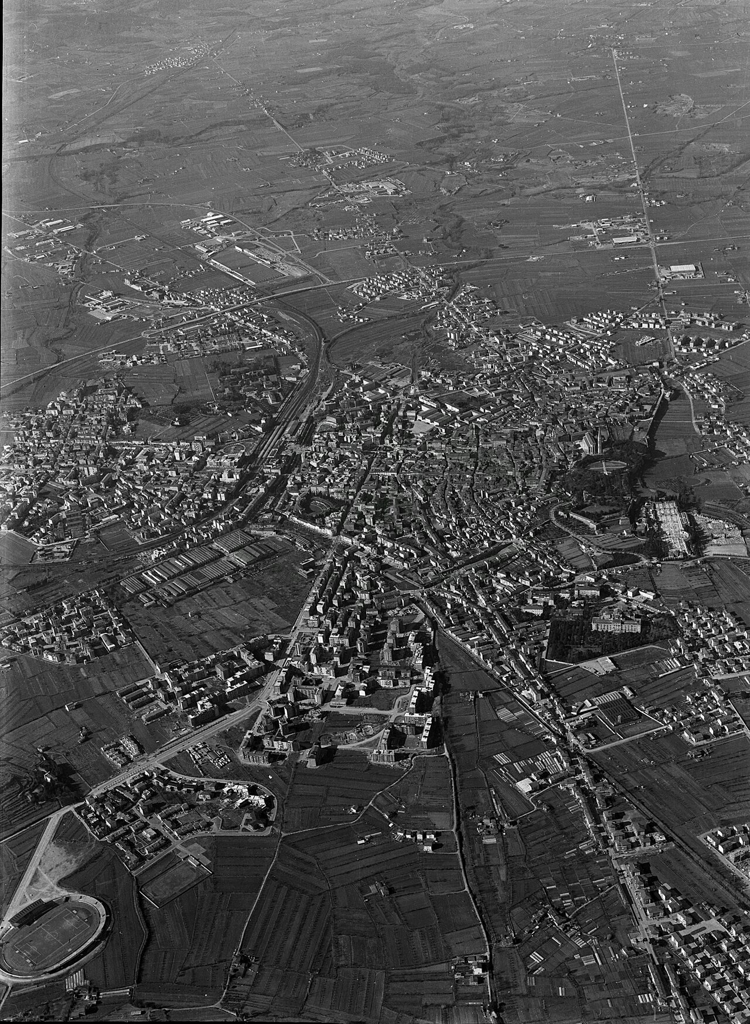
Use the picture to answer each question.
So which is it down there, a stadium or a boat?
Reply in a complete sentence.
Of the two, only a stadium appears.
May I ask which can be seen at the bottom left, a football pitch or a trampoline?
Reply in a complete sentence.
The one visible at the bottom left is a football pitch.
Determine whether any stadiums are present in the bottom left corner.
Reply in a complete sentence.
Yes, a stadium is visible in the bottom left corner.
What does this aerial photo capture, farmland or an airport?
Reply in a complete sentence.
The area seen from above is farmland.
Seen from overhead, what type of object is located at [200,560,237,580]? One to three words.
shed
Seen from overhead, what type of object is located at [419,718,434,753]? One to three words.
building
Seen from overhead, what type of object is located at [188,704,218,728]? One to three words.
building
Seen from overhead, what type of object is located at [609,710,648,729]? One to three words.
shed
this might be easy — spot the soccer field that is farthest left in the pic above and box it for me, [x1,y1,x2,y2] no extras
[11,906,91,966]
